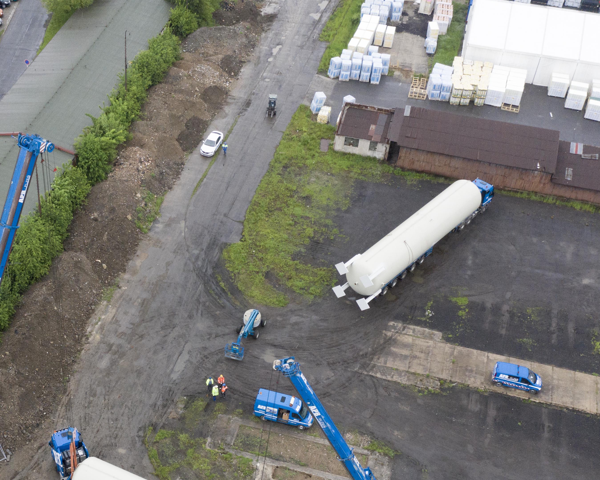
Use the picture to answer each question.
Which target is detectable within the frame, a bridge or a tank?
tank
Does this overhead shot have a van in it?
Yes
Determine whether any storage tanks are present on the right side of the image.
Yes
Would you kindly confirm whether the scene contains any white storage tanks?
Yes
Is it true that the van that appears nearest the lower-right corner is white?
No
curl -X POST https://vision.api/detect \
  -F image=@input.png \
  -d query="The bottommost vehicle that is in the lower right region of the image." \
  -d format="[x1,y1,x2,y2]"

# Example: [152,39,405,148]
[491,362,541,396]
